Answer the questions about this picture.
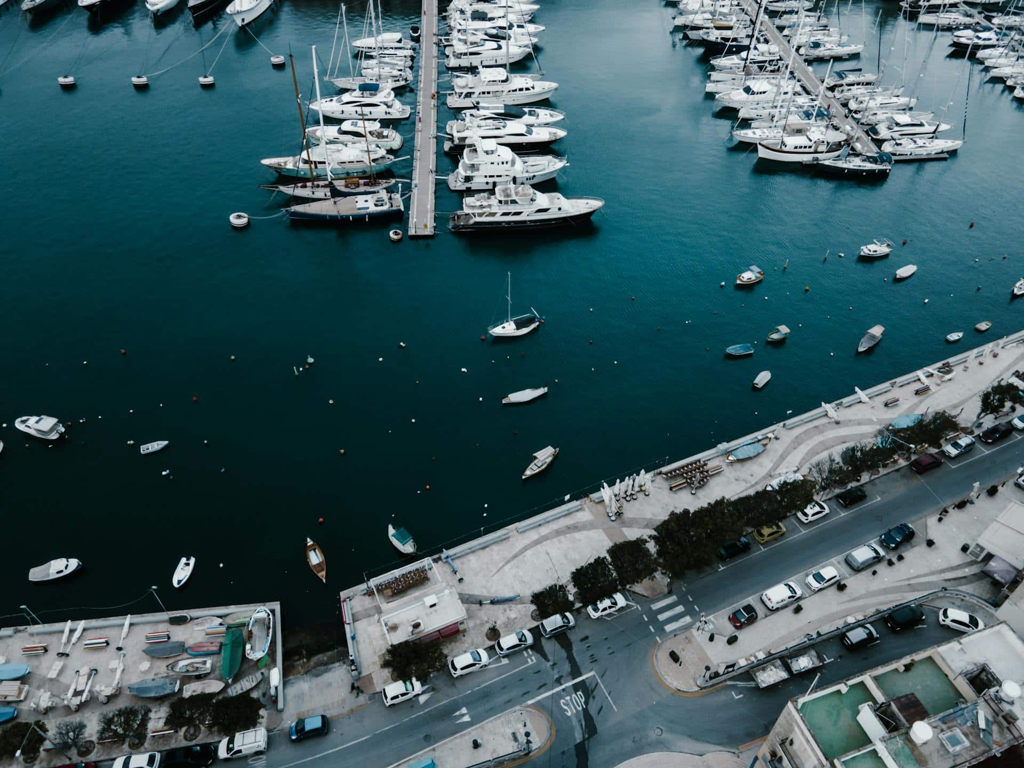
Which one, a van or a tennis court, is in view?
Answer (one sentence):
The one in the frame is a van.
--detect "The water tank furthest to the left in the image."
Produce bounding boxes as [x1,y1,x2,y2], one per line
[905,722,931,748]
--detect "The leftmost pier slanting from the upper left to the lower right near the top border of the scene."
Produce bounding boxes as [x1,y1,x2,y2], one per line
[739,0,880,156]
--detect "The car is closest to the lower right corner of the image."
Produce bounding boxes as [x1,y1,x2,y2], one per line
[939,611,980,635]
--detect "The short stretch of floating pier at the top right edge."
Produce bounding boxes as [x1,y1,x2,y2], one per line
[964,5,1024,49]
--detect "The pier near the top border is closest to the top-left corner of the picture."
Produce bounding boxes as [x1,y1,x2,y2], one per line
[409,0,438,238]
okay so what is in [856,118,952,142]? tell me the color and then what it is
white boat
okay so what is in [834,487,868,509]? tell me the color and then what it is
black car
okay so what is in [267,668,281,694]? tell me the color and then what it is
white boat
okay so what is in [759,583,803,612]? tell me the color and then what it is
white van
